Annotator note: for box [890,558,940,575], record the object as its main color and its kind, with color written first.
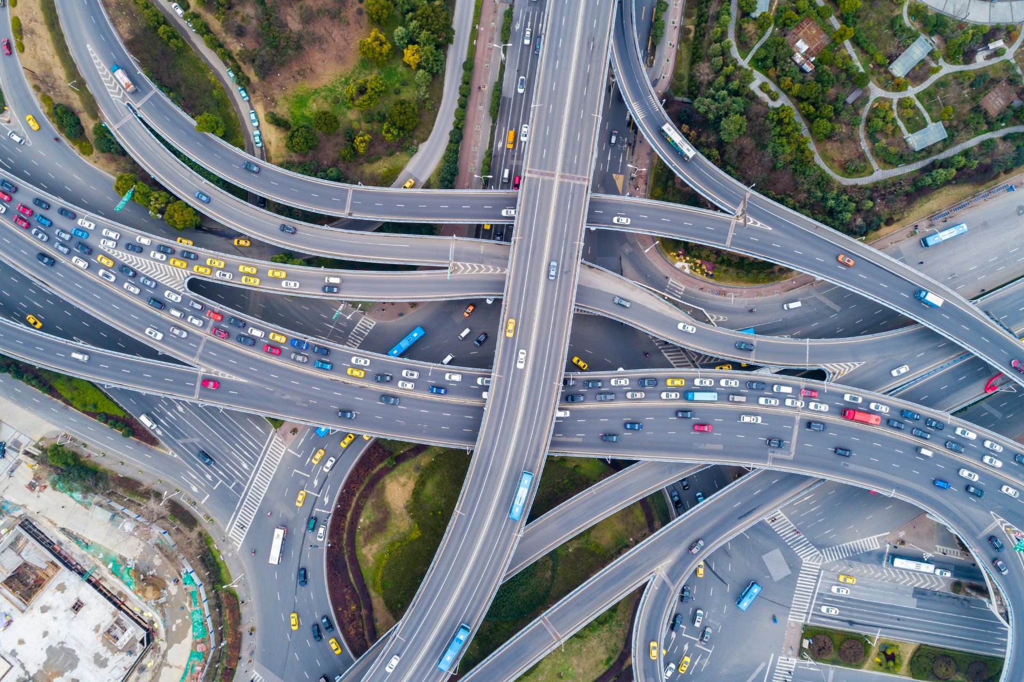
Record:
white vehicle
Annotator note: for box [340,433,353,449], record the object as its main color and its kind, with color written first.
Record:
yellow vehicle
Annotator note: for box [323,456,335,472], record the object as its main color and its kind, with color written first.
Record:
white vehicle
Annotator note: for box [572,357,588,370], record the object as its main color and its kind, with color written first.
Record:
yellow vehicle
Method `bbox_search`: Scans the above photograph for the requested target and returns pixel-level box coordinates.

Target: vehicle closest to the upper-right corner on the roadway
[922,222,974,246]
